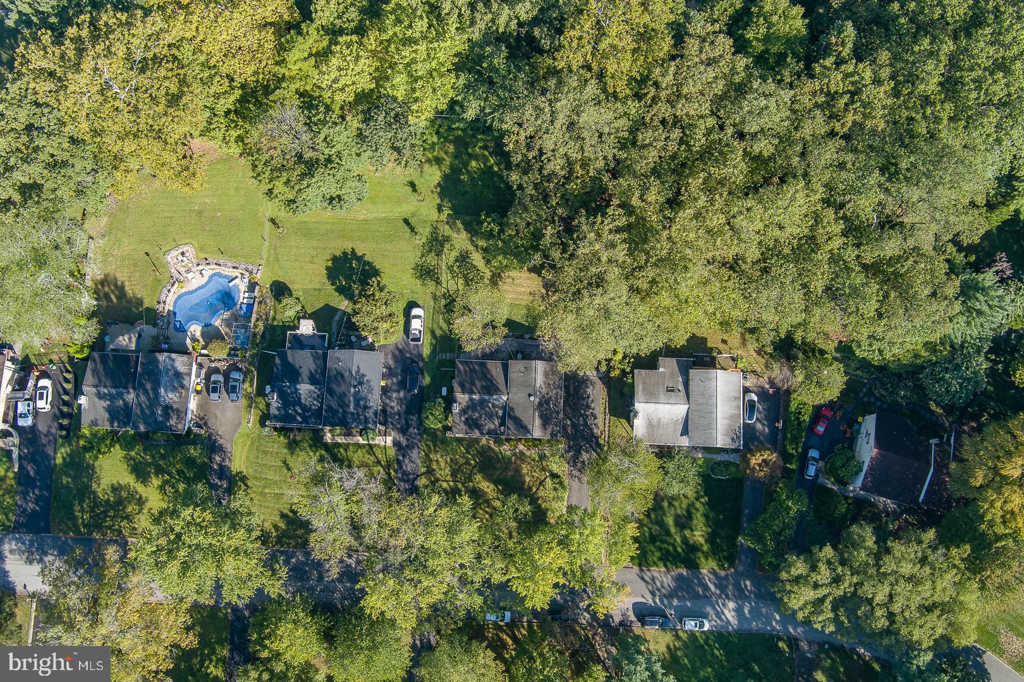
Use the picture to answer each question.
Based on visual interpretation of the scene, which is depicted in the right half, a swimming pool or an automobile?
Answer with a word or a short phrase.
automobile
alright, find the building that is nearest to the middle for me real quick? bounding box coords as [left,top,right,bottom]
[451,359,564,440]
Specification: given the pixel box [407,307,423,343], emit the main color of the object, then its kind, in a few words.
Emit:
white vehicle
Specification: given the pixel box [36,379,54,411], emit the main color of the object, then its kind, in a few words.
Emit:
white car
